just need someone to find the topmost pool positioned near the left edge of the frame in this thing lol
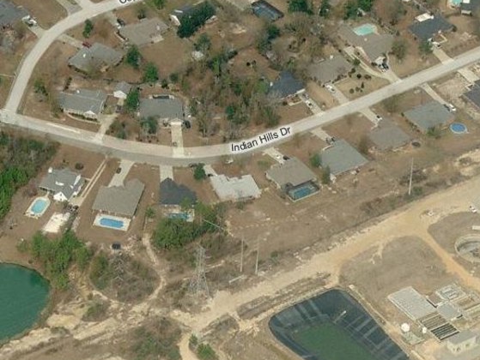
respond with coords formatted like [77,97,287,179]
[23,196,54,217]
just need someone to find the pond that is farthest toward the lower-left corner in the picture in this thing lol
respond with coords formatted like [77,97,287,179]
[0,263,50,347]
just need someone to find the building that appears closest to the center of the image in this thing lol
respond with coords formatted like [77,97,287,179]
[211,174,261,204]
